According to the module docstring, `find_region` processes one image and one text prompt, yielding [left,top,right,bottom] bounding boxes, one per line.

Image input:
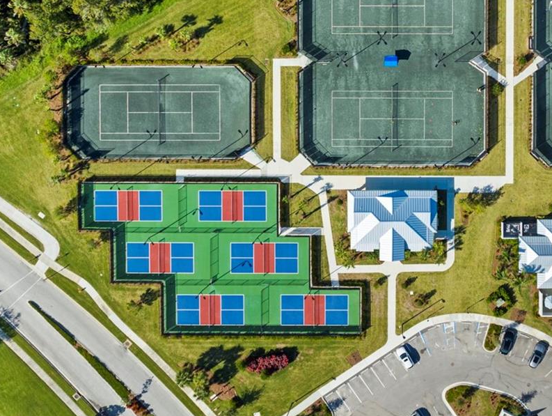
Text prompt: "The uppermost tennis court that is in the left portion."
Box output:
[67,66,249,158]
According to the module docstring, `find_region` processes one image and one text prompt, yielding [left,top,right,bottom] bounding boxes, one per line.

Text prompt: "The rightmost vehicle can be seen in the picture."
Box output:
[529,342,547,366]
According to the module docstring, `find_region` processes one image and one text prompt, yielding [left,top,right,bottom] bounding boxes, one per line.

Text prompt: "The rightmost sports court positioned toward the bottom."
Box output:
[265,283,362,331]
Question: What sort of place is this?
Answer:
sports ground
